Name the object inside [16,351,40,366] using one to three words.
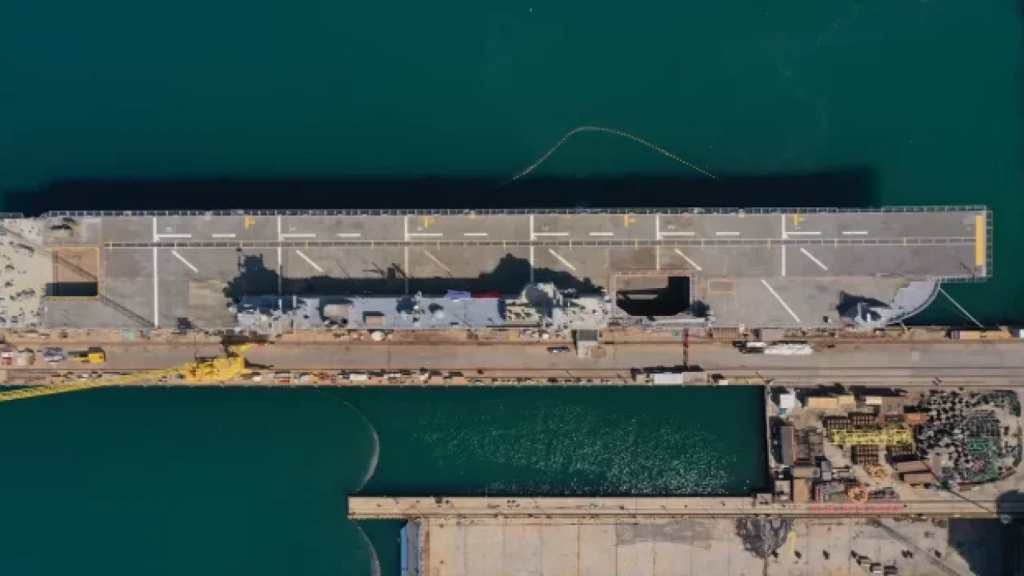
vehicle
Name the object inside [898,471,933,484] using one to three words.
shed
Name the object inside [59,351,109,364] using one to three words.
vehicle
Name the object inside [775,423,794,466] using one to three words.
shed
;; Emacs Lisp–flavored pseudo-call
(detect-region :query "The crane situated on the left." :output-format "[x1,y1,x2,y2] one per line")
[0,341,262,405]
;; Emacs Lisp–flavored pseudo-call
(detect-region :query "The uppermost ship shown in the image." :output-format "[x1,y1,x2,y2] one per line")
[0,205,991,334]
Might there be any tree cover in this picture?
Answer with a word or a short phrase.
No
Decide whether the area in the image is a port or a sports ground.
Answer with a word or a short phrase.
port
